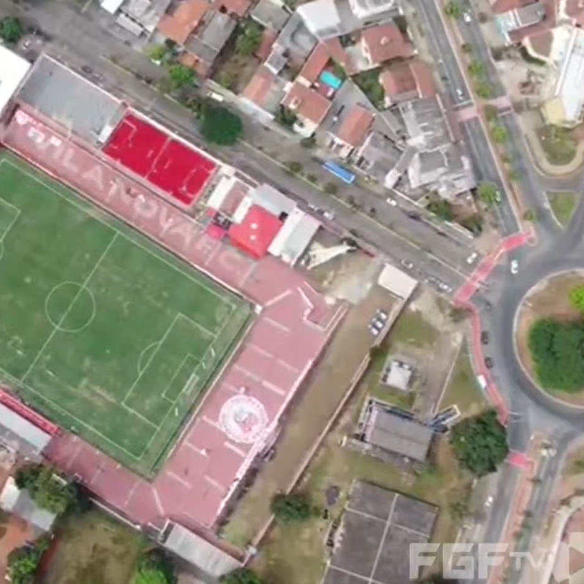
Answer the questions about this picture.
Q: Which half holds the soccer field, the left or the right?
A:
left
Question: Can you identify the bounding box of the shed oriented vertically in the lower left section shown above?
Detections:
[0,476,19,511]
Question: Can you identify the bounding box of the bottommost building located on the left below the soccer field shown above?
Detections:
[162,518,244,577]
